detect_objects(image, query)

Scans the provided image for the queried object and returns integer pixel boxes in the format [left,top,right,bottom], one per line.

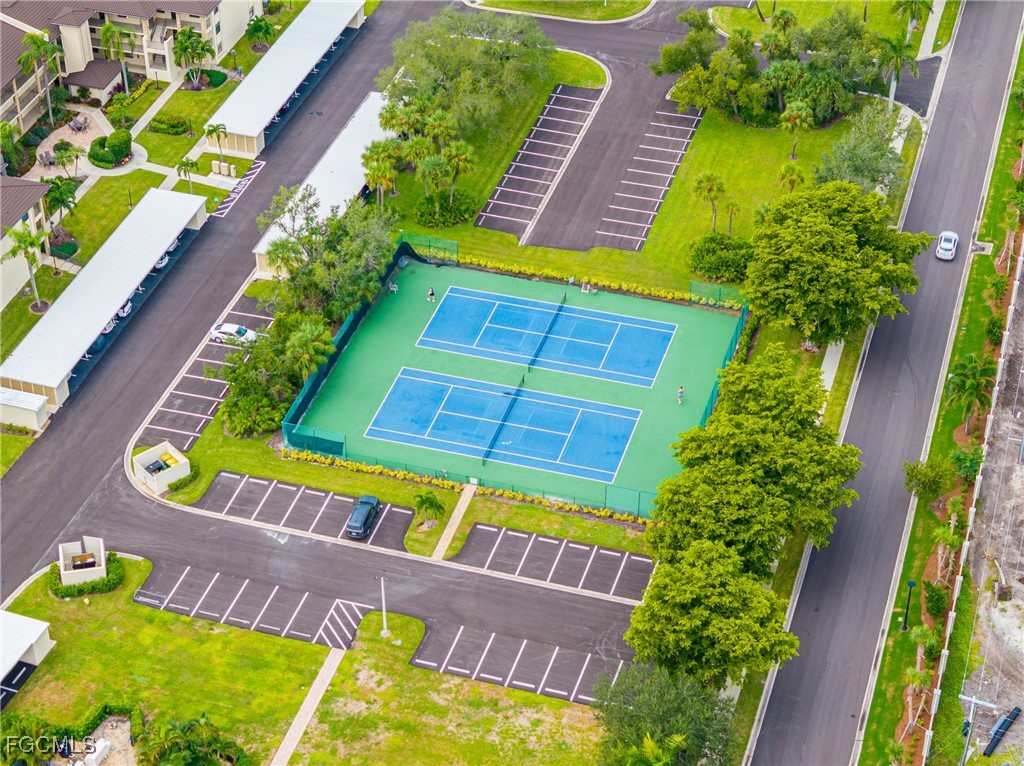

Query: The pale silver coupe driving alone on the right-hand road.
[934,231,958,259]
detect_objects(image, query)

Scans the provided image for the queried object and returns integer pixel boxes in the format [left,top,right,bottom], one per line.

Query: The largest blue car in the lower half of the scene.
[345,495,383,536]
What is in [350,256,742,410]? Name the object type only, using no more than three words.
tennis court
